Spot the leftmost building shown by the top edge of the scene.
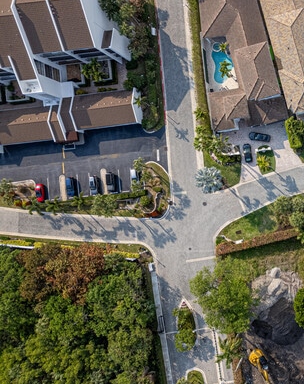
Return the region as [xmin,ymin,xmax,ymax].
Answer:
[0,0,131,110]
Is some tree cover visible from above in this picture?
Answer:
Yes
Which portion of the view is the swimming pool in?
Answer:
top right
